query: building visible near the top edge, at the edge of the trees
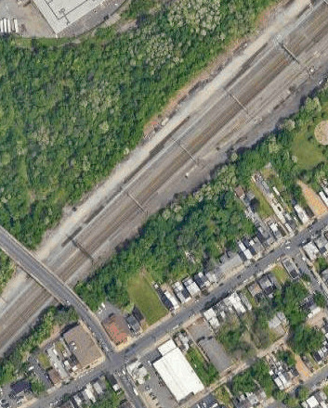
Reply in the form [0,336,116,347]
[34,0,109,33]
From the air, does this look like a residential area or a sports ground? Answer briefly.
residential area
